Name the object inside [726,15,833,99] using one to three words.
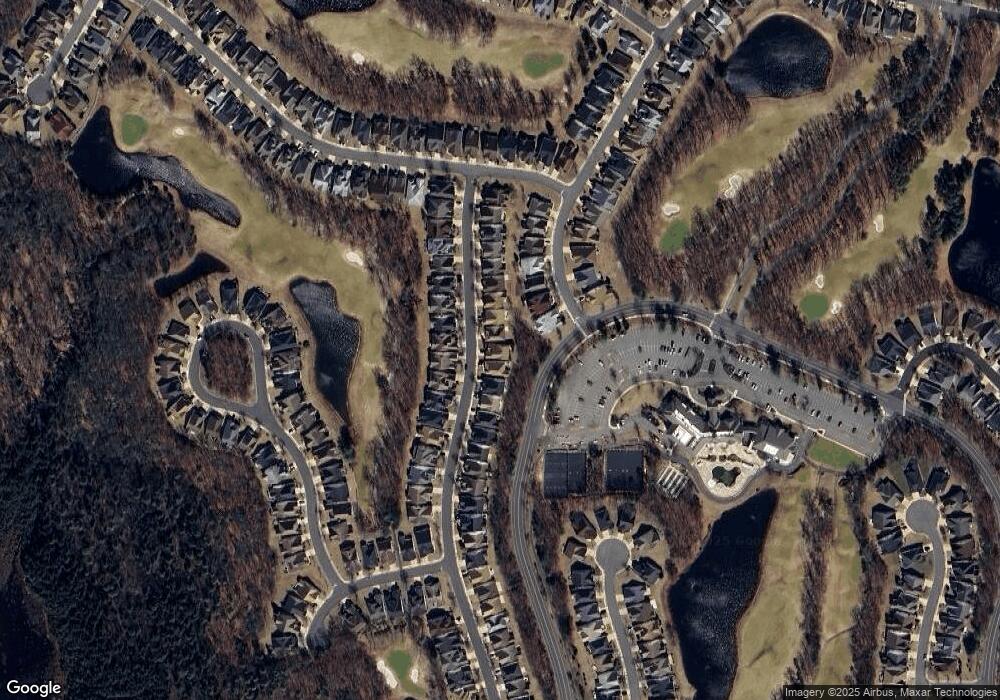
pond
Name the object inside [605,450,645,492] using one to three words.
tennis court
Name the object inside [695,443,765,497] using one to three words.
swimming pool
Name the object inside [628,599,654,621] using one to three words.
house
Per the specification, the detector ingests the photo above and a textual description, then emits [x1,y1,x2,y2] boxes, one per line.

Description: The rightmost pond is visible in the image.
[948,157,1000,307]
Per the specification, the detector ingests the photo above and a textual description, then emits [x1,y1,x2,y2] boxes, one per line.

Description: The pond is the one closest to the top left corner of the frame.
[68,105,241,227]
